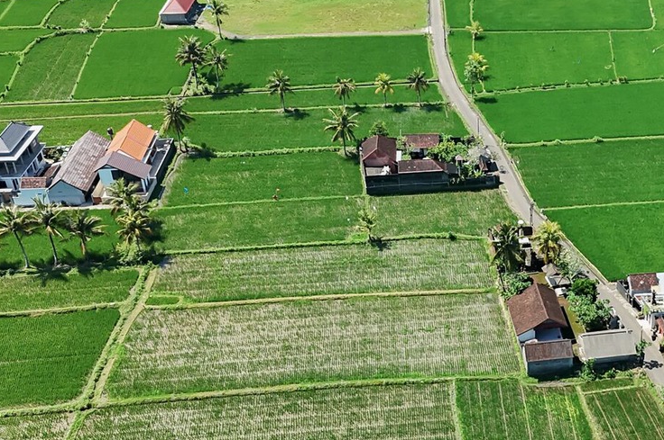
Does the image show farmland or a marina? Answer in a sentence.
The area seen from above is farmland.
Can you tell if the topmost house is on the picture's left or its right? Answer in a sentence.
The topmost house sits on the left side.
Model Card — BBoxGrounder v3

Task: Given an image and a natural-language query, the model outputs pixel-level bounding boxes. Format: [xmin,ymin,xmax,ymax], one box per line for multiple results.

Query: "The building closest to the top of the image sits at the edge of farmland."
[161,0,201,24]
